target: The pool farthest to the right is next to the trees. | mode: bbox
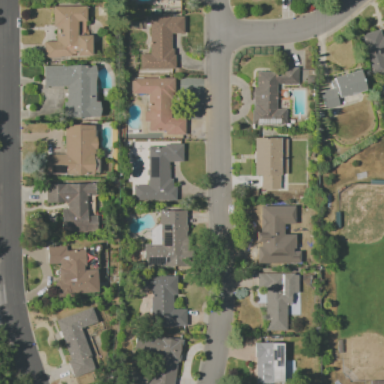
[293,89,308,116]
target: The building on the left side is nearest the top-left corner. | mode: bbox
[45,6,94,57]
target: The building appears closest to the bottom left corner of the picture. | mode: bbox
[58,308,100,377]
